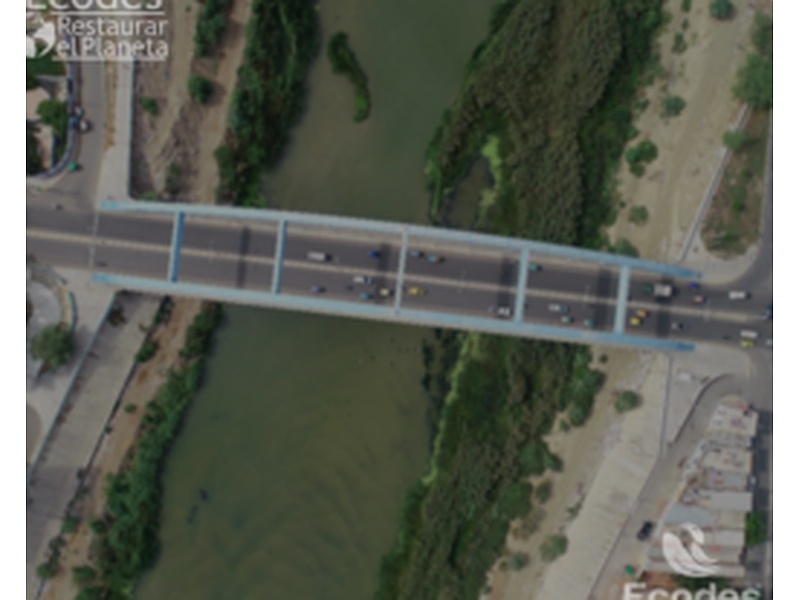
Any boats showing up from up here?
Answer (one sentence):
No, the scene contains no boat.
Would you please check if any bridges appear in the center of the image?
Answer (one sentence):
Yes, a bridge shows up in the center of the image.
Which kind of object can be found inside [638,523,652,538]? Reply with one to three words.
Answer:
car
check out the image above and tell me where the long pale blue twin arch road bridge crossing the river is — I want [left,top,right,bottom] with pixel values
[93,198,702,355]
